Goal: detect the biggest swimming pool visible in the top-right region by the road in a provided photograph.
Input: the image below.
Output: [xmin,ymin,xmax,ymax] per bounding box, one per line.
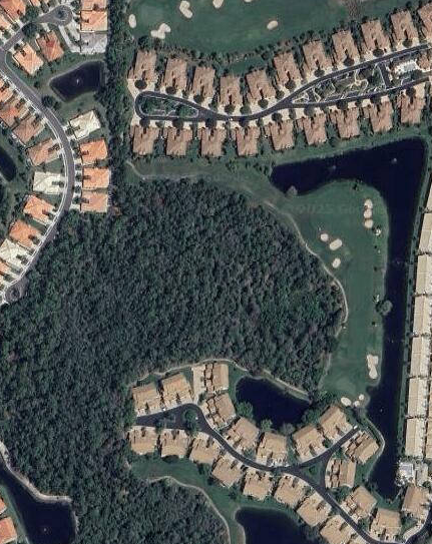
[395,60,418,73]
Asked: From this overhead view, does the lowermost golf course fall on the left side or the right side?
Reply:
right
